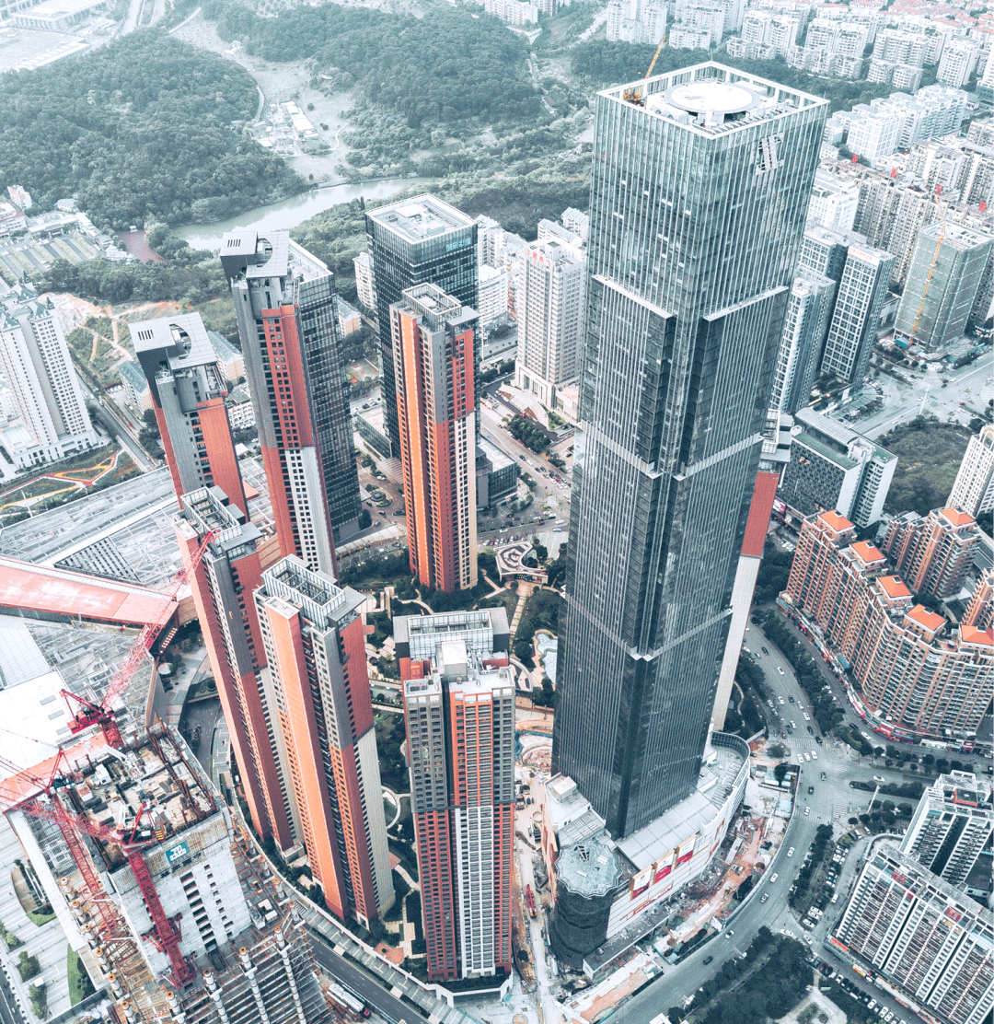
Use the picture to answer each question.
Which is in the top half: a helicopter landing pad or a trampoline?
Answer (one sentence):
Visible in the top half is a helicopter landing pad.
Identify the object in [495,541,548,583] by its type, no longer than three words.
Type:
building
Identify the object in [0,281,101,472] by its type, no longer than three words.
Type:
building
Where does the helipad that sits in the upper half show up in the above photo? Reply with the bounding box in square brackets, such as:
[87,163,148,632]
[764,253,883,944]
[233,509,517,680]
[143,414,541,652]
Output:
[665,82,762,130]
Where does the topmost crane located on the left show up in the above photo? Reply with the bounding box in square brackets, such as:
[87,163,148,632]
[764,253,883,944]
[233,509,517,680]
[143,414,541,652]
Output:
[89,577,192,762]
